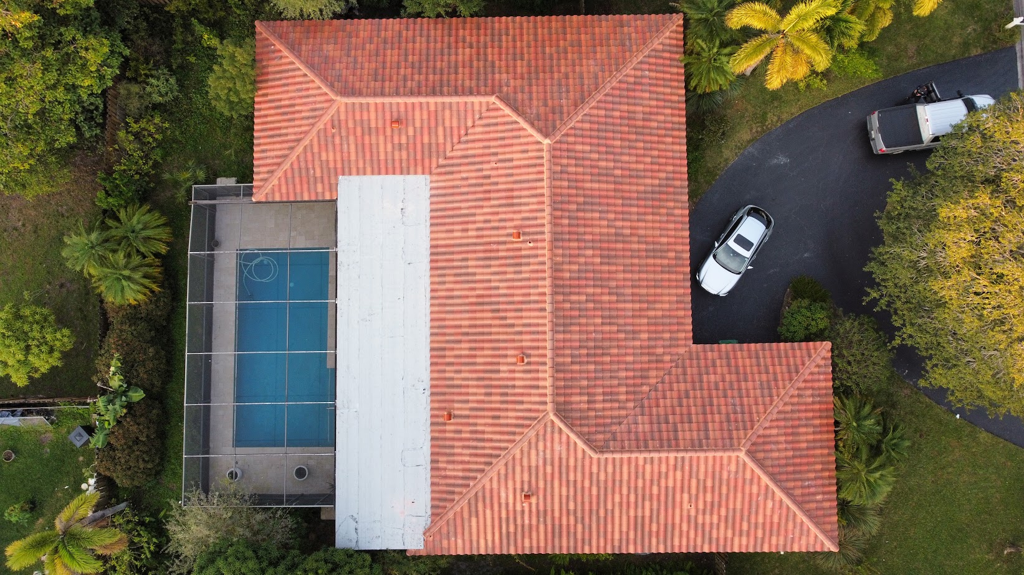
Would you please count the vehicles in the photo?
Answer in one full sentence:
Altogether the scene contains 2 vehicles.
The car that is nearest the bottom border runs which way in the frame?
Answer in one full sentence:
Seen from above, the car that is nearest the bottom border lies at an angle.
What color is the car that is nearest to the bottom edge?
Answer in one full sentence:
The car that is nearest to the bottom edge looks white in the image.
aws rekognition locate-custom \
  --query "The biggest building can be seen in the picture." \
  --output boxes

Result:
[251,11,843,556]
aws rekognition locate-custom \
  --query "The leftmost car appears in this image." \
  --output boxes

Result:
[697,203,777,295]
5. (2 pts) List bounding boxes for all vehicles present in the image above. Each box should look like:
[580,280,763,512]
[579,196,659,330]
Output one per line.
[865,83,1002,156]
[697,203,777,295]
